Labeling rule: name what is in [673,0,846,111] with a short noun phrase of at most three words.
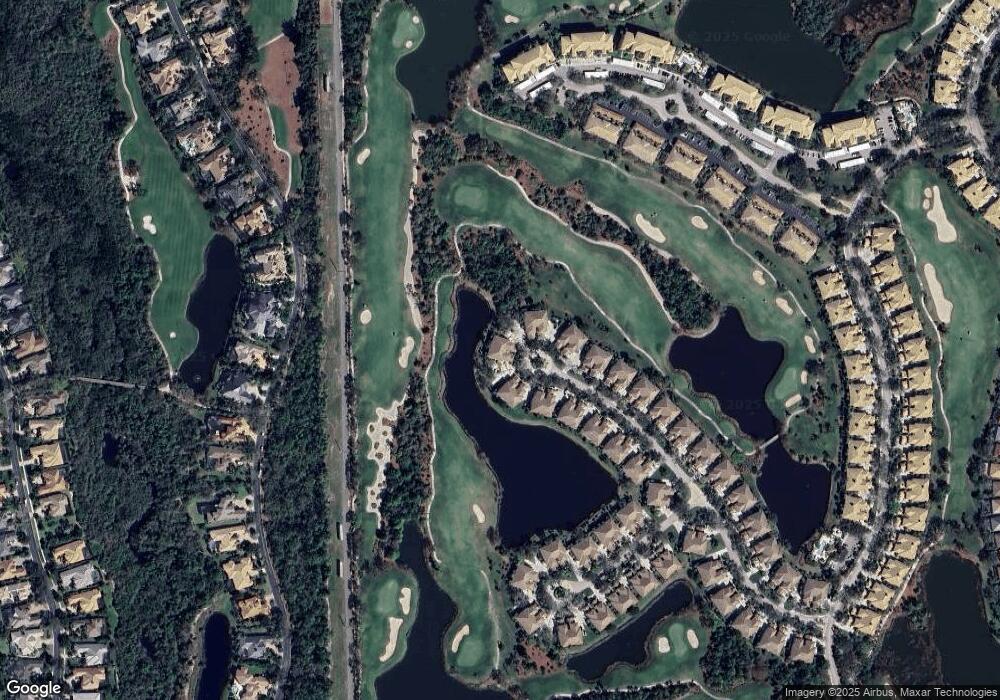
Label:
pond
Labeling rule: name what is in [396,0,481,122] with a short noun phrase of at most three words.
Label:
pond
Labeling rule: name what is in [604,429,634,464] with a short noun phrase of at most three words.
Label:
house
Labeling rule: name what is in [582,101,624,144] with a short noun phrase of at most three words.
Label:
building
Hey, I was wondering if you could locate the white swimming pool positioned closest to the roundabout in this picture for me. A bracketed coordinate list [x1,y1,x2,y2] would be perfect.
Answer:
[679,51,710,78]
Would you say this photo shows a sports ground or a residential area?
residential area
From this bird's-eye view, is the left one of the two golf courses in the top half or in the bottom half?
top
